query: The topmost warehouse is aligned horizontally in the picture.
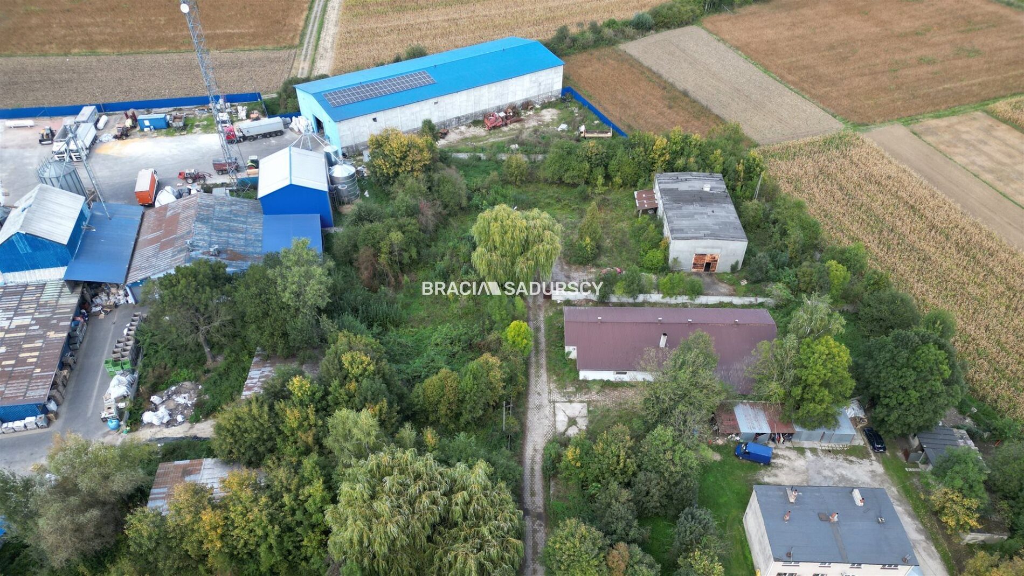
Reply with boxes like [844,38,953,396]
[288,40,567,154]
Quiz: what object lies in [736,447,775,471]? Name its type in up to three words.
vehicle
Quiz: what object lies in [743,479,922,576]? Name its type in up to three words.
house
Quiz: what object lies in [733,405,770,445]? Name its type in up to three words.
building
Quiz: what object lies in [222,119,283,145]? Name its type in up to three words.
truck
